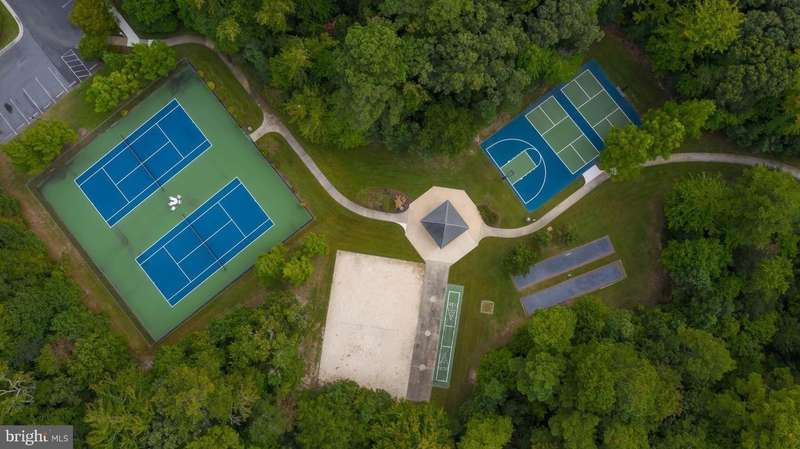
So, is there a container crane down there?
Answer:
No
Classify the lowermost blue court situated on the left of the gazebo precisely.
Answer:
tennis court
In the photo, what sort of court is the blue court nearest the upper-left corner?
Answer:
tennis court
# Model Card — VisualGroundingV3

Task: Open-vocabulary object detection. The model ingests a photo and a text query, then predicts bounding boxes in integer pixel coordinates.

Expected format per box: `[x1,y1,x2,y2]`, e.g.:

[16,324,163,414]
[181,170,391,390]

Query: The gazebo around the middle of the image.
[420,200,470,249]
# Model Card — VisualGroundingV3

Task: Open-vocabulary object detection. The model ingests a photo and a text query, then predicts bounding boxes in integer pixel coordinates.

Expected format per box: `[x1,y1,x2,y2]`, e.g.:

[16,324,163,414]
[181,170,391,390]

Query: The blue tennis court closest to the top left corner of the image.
[75,98,212,227]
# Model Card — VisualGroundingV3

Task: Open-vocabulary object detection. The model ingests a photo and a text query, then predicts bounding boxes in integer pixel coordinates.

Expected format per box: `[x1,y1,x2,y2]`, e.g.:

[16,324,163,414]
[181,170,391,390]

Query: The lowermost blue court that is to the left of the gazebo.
[137,178,273,306]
